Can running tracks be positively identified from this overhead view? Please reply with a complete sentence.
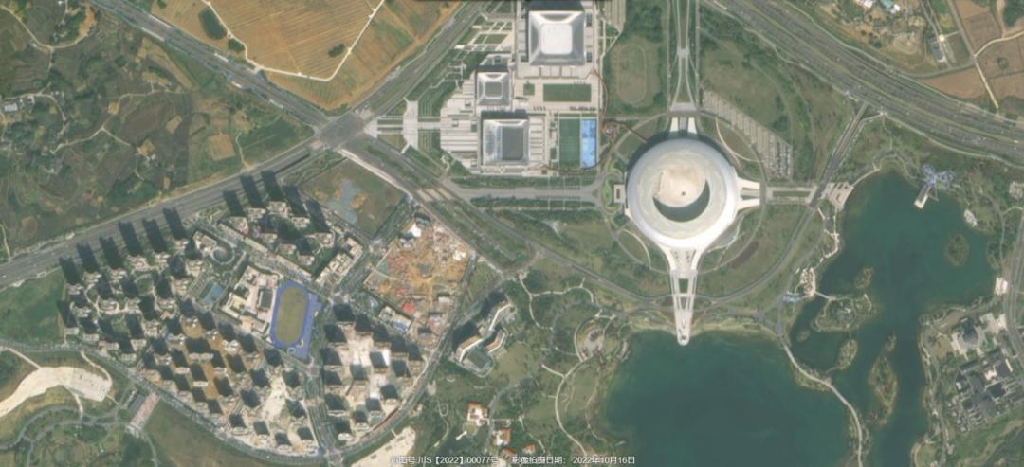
Yes, the photo shows a running track.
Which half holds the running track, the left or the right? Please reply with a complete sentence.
The running track is on the left side of the image.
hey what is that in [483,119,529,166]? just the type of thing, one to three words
building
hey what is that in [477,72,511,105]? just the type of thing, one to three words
building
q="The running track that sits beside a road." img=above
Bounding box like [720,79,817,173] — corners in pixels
[269,278,323,359]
